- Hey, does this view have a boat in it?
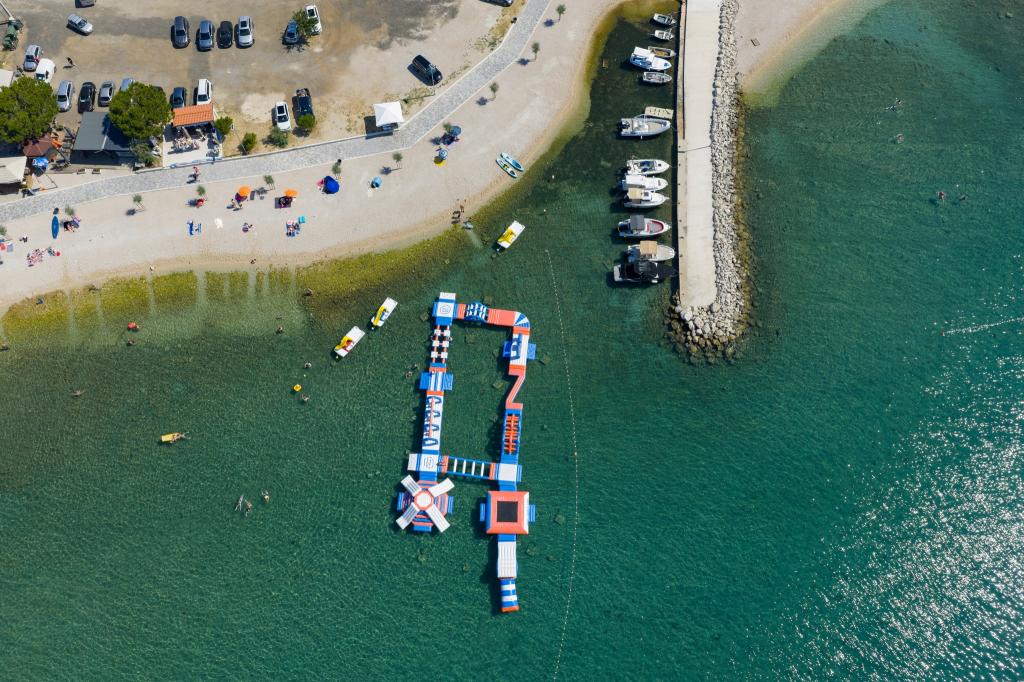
Yes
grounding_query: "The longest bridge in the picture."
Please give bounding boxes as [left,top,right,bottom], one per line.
[448,455,497,481]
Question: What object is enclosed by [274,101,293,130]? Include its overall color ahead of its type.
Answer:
white car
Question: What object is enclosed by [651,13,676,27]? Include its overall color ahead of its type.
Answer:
gray boat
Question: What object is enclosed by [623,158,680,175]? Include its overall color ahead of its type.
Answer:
white boat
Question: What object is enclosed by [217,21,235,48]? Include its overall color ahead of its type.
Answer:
black car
